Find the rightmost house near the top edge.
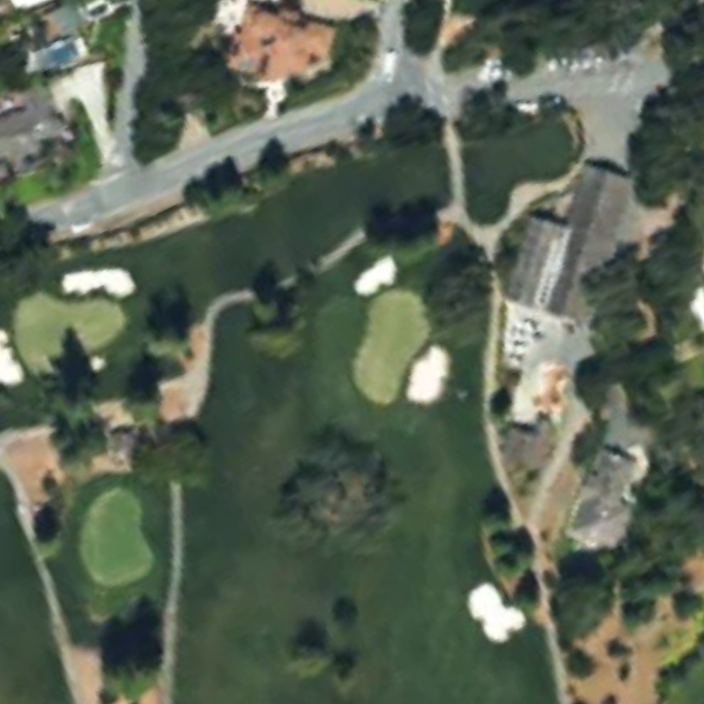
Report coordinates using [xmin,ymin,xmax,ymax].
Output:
[224,0,338,86]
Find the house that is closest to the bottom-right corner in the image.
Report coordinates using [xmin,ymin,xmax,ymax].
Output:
[574,442,645,550]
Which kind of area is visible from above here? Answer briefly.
golf course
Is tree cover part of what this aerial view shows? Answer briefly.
Yes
